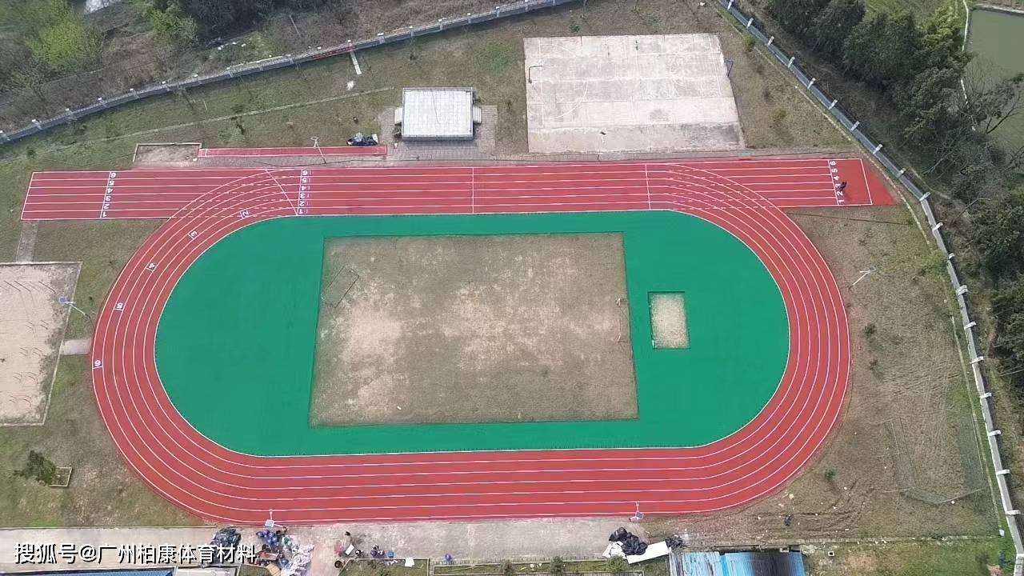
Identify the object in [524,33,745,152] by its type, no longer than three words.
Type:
basketball court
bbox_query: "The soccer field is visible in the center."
[310,233,638,425]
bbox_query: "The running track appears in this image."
[15,157,894,531]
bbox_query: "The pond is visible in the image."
[965,9,1024,174]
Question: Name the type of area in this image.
sports ground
